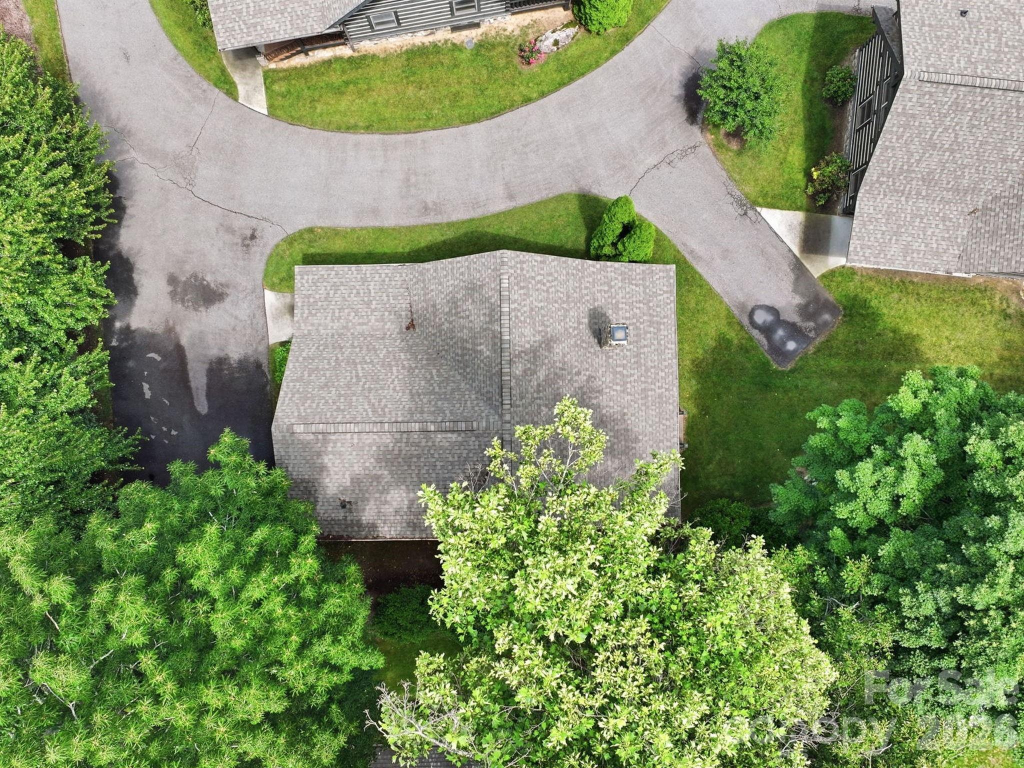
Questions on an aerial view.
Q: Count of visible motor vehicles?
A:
0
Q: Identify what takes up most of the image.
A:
trees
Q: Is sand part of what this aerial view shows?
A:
No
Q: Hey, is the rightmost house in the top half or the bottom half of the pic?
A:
top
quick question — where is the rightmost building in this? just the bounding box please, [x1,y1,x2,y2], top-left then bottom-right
[836,0,1024,285]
